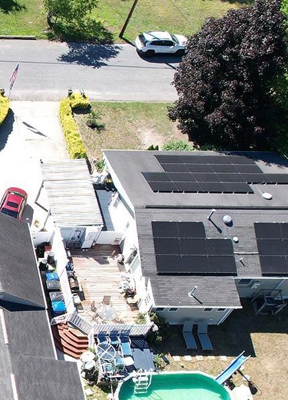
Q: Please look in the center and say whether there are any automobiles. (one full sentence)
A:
No, there is no automobile in the center.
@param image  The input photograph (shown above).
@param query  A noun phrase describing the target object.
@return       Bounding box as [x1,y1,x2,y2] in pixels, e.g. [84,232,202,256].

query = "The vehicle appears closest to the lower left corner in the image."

[0,185,30,219]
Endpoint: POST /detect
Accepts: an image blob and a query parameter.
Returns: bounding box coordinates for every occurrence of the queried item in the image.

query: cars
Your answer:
[129,31,192,63]
[0,185,30,219]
